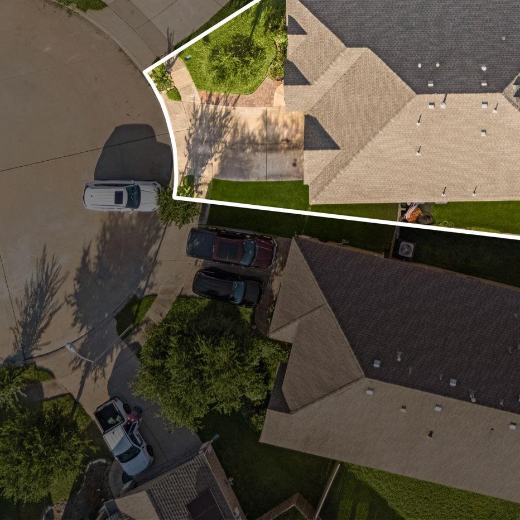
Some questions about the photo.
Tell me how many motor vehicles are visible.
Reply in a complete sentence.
Looking from above, you can make out 4 motor vehicles.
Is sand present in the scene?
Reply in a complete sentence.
No, no sand is visible.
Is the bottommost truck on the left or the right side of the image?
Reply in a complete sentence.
The bottommost truck appears in the left half of the scene.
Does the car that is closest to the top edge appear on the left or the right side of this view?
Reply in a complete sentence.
You can find the car that is closest to the top edge on the left side of the picture.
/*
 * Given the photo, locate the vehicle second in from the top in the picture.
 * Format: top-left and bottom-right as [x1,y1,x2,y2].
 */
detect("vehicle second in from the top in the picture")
[184,227,278,270]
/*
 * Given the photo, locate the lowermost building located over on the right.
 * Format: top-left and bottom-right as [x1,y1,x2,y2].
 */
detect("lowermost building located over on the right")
[259,237,520,504]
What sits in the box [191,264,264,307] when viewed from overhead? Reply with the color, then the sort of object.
black car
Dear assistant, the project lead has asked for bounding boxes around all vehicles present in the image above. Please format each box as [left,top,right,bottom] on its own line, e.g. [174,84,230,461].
[184,227,278,270]
[83,179,162,214]
[191,264,264,307]
[90,389,158,478]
